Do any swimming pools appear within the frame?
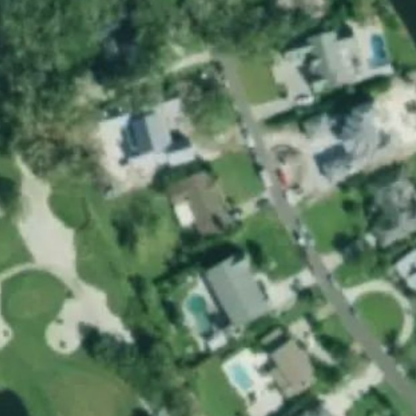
Yes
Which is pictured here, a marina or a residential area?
residential area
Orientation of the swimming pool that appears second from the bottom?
vertically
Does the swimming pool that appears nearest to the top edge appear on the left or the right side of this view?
right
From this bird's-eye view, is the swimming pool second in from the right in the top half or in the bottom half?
bottom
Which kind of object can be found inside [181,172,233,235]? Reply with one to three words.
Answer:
house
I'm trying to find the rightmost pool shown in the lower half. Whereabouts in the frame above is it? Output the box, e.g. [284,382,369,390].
[223,348,283,416]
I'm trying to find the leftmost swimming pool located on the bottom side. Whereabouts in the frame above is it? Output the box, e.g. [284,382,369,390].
[183,277,221,350]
